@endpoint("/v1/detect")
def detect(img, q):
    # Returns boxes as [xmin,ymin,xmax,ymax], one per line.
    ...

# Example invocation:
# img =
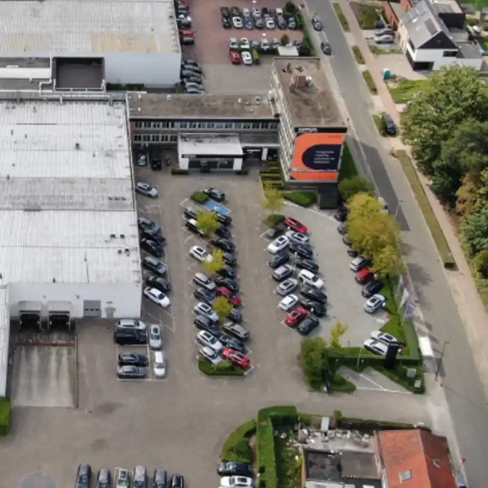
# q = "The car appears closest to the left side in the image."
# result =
[75,464,91,488]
